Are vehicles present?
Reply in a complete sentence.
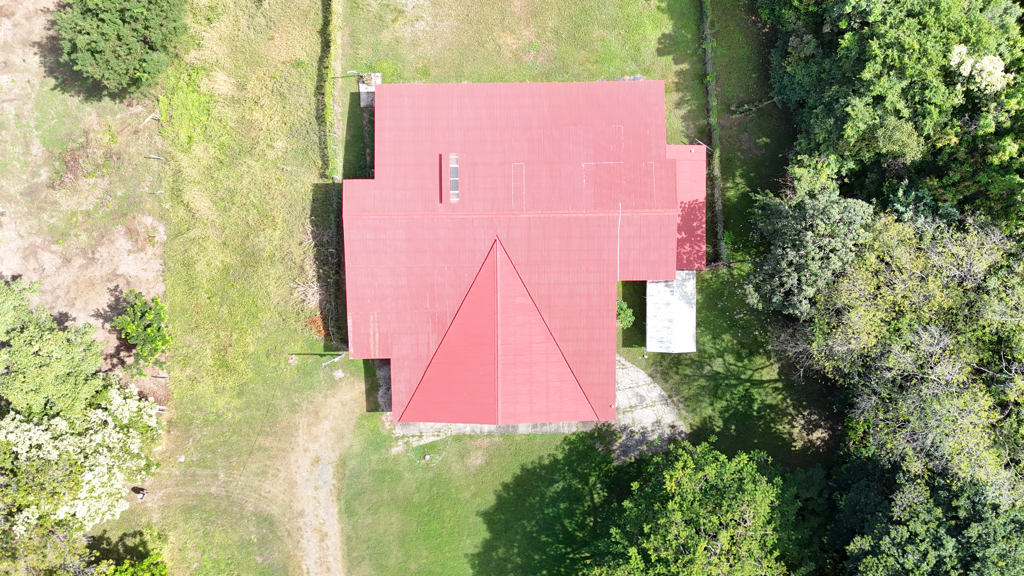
No, the picture doesn't show any vehicle.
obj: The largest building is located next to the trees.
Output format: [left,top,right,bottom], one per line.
[341,80,706,425]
